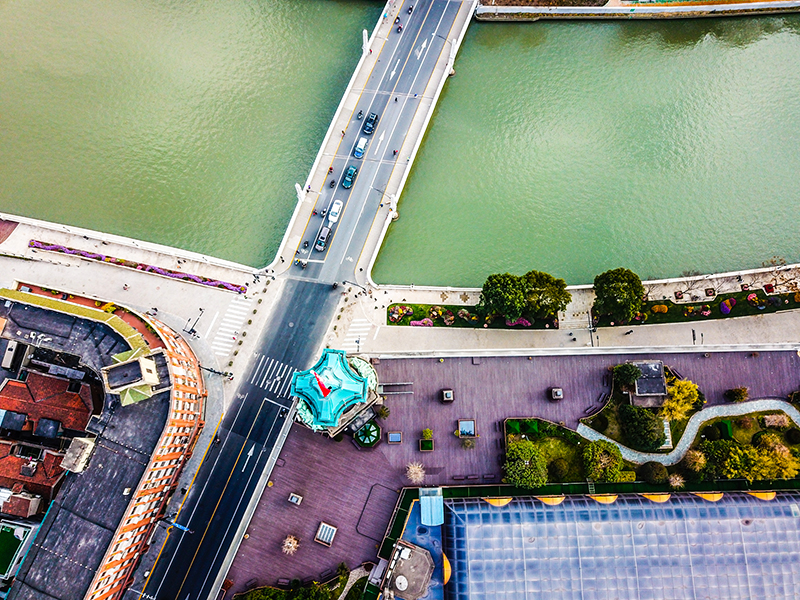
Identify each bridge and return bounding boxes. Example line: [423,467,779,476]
[272,0,479,287]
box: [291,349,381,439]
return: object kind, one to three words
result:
building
